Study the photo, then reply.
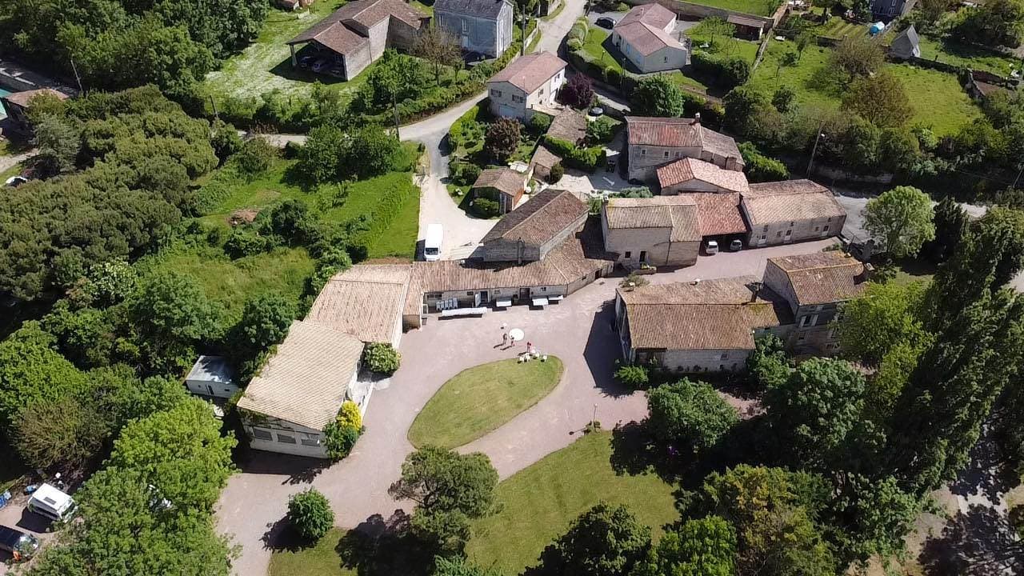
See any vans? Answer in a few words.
Yes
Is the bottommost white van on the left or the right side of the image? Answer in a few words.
left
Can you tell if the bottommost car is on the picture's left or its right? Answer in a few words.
left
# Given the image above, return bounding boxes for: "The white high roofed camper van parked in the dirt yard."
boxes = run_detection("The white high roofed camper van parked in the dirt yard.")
[28,482,80,526]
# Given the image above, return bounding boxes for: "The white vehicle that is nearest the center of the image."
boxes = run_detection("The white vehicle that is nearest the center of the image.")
[423,226,443,260]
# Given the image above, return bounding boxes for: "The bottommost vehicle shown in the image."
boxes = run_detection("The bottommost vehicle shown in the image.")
[0,526,38,560]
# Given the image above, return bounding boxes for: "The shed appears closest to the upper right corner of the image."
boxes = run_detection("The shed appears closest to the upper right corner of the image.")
[969,80,1009,106]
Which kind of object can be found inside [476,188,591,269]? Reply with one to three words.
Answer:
barn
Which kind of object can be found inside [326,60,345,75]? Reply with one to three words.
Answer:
car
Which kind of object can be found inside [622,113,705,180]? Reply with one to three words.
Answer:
house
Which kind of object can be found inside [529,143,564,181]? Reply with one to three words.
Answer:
shed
